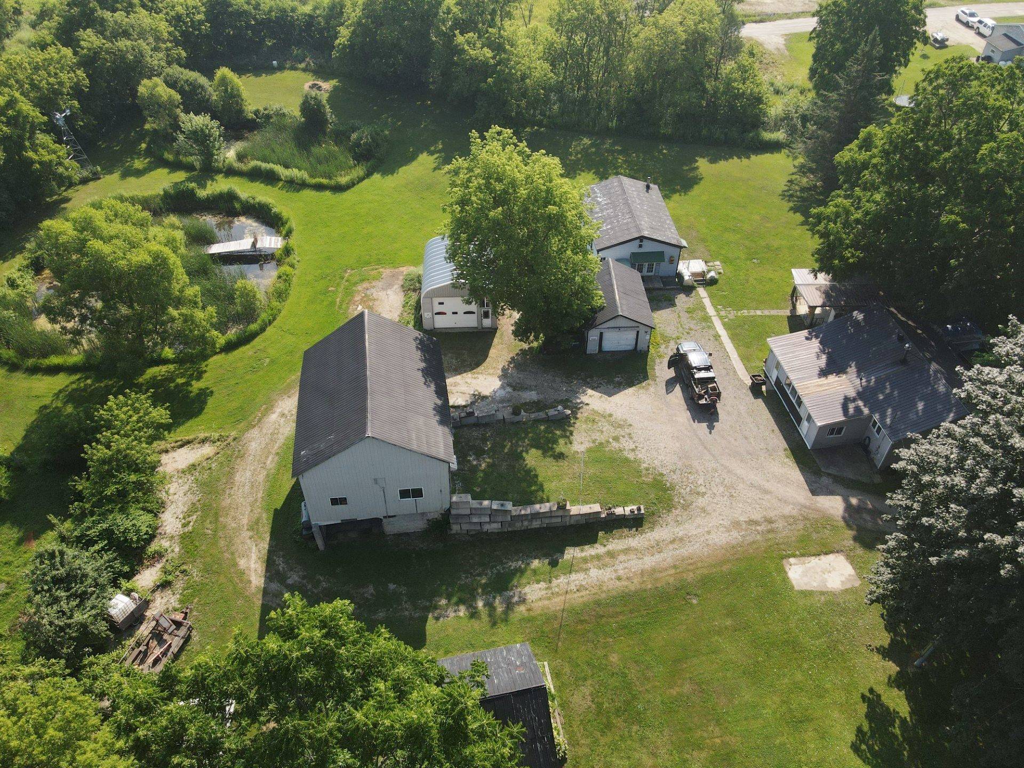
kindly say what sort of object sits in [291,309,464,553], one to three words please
barn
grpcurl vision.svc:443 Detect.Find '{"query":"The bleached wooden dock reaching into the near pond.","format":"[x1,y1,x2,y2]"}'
[206,238,284,255]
